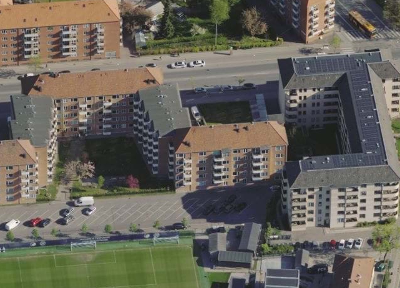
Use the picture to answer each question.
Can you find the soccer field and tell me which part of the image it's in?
bottom left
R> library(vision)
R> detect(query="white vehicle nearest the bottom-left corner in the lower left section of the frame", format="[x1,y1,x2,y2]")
[5,218,20,232]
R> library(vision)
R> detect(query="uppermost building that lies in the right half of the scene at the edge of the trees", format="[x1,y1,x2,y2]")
[251,0,336,41]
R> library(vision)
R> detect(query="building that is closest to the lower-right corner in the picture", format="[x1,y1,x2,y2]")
[329,252,374,288]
